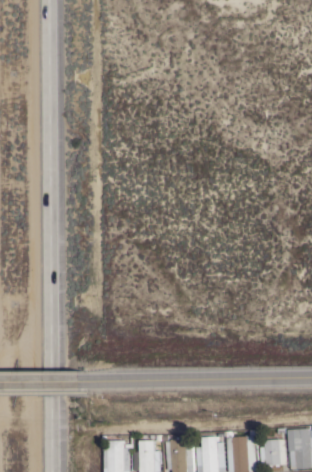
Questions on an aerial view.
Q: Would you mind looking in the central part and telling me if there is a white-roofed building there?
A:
No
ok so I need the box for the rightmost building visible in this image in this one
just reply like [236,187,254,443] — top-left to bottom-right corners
[288,430,312,471]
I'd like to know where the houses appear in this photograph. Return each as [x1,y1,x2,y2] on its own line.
[166,442,196,472]
[228,438,256,472]
[261,441,286,467]
[196,438,226,472]
[104,441,131,472]
[288,430,312,471]
[138,441,162,472]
